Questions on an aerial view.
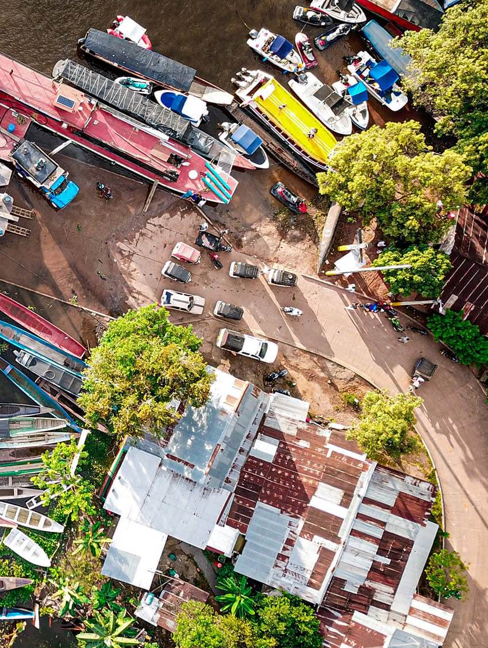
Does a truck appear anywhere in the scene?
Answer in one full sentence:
Yes, you can see a truck in this photo.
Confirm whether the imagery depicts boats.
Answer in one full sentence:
Yes, this view includes a boat.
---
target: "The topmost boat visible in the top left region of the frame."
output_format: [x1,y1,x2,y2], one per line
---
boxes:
[109,10,152,43]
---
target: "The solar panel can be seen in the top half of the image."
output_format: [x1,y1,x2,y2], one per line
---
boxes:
[54,91,78,111]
